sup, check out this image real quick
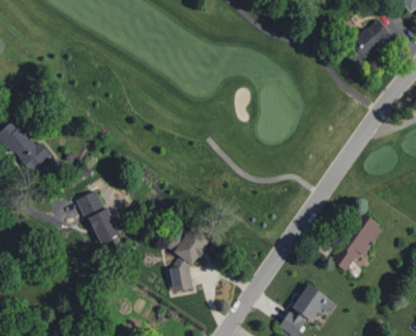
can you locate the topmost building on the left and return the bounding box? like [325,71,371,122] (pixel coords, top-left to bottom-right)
[0,123,53,169]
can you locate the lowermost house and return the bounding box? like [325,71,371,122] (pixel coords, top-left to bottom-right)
[282,284,337,336]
